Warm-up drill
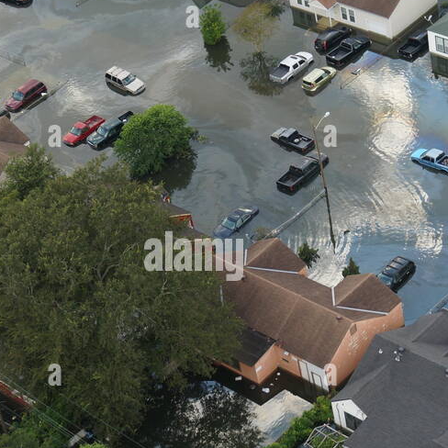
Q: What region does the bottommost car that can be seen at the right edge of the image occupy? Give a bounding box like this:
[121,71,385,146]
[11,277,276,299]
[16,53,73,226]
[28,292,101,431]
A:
[376,246,427,286]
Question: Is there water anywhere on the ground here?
Yes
